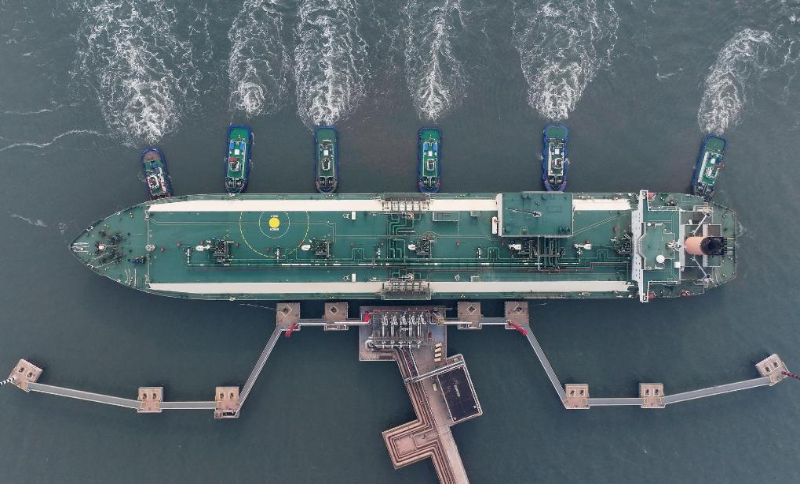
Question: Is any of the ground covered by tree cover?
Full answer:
No, no tree cover is visible.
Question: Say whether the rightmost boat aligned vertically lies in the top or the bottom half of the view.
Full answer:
You can find the rightmost boat aligned vertically in the top half.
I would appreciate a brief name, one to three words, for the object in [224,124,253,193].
boat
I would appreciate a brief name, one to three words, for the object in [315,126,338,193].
boat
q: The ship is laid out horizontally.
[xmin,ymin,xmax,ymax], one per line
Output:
[70,190,736,302]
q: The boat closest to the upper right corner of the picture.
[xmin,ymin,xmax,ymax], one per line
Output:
[692,134,726,199]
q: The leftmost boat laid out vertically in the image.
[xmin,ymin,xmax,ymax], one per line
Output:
[141,147,173,199]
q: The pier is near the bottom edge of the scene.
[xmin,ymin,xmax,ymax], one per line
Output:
[360,307,483,484]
